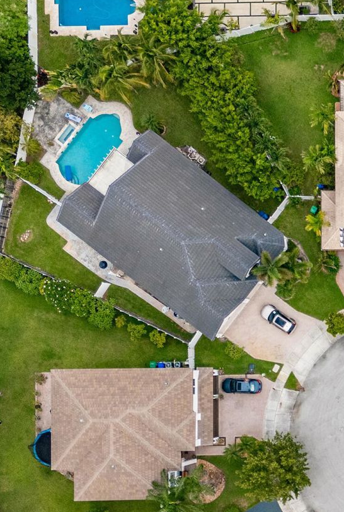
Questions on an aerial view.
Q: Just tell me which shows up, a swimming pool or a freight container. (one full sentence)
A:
Visible in the photo is a swimming pool.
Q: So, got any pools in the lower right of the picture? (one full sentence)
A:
No, I see no pool in the lower right of the picture.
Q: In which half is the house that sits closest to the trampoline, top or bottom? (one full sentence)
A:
The house that sits closest to the trampoline sits in the bottom half of the picture.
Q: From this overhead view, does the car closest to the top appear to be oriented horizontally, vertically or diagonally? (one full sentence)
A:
In this picture, the car closest to the top is oriented diagonally.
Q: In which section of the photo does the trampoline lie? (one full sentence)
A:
The trampoline is located in the bottom left region of the scene.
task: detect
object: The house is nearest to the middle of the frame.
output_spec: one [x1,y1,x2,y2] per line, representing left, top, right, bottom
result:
[58,128,292,343]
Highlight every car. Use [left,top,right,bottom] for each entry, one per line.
[223,377,260,395]
[260,303,297,334]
